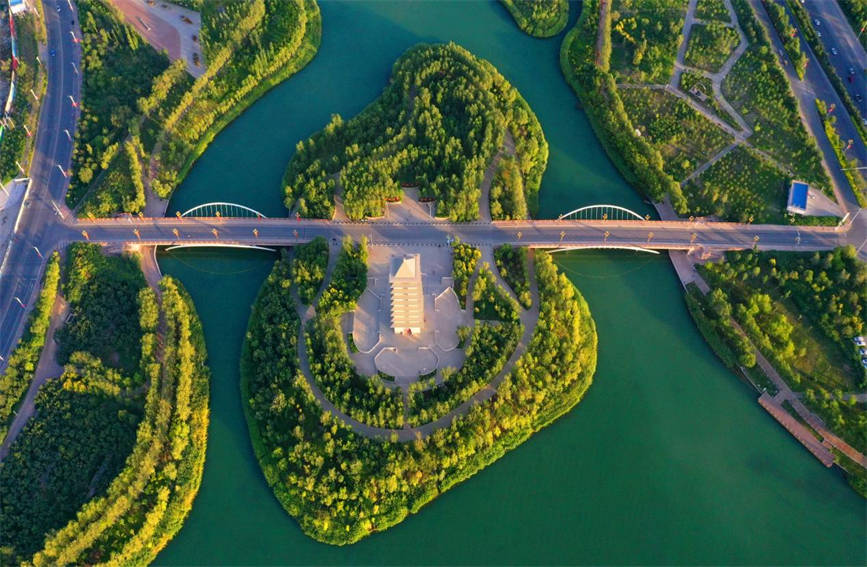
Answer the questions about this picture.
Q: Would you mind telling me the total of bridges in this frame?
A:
2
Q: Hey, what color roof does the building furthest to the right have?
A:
blue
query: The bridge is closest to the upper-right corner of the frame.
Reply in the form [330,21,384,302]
[494,205,763,254]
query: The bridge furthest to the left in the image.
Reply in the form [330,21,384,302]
[73,203,334,251]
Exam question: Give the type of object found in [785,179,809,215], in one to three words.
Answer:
building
